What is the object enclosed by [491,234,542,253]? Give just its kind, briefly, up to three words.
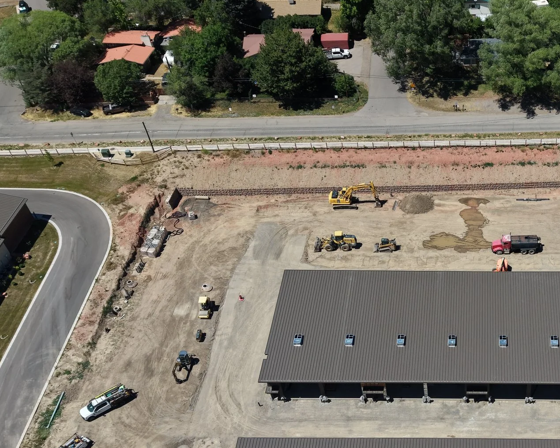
vehicle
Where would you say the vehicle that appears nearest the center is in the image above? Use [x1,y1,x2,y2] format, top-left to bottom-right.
[313,229,358,250]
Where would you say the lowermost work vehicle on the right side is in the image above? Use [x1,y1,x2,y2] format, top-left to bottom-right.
[493,255,509,269]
